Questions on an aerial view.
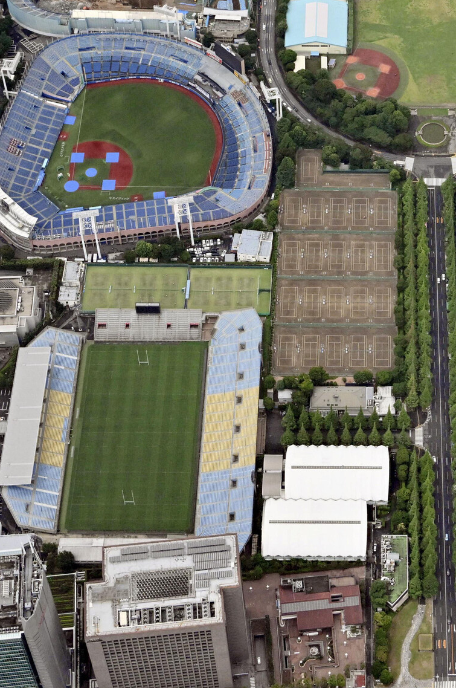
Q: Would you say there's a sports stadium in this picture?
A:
Yes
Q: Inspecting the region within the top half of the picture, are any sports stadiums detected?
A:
Yes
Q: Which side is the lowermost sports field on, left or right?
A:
left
